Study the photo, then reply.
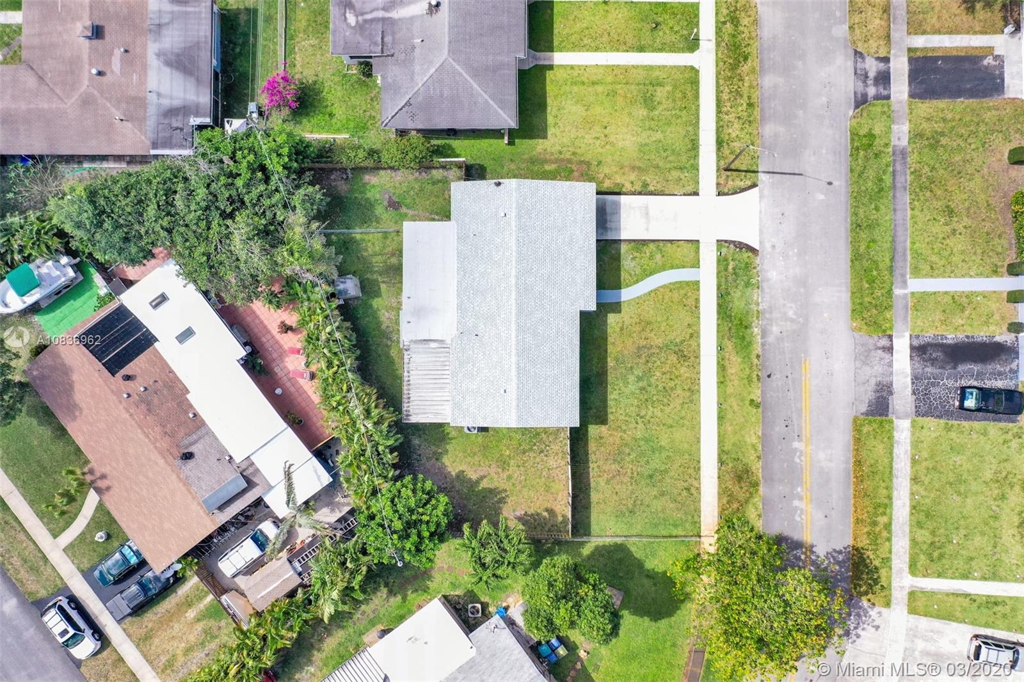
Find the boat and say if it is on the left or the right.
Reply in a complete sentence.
The boat is on the left side of the image.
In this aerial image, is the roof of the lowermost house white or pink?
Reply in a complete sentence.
The roof of the lowermost house is white.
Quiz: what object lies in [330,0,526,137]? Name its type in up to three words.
house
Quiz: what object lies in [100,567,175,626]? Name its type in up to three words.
truck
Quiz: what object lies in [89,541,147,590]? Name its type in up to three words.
car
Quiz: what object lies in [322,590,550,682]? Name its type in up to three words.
house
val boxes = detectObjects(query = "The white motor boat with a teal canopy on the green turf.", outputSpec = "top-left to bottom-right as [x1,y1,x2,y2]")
[0,251,86,309]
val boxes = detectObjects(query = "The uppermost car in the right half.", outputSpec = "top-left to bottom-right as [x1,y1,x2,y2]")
[958,386,1024,416]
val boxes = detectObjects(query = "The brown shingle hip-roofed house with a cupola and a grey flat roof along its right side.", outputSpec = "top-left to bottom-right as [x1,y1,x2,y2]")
[0,0,228,155]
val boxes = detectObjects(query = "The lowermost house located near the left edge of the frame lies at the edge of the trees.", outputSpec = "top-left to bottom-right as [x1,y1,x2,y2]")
[24,259,337,573]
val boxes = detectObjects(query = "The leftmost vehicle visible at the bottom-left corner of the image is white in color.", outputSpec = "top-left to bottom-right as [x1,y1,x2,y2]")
[38,599,98,663]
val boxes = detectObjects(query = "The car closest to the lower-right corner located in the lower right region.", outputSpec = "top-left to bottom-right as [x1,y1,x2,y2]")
[969,641,1024,677]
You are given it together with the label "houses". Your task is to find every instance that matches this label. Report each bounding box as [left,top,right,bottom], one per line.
[24,259,337,573]
[399,179,596,428]
[322,590,550,682]
[0,0,228,155]
[330,0,526,137]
